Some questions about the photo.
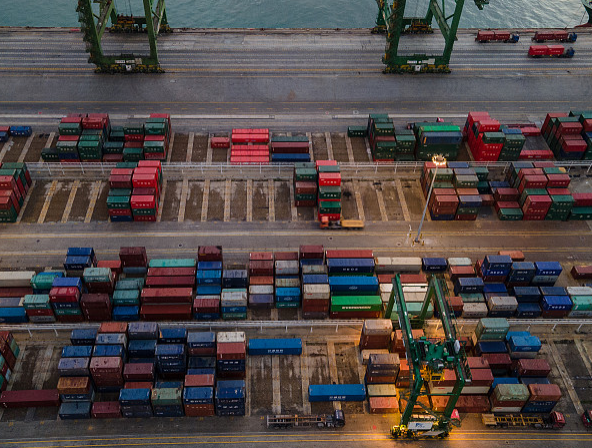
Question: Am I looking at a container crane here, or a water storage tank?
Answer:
container crane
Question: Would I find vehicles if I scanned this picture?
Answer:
Yes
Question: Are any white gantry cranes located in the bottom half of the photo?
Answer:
No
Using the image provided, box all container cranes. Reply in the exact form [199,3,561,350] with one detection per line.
[69,0,173,71]
[369,0,487,72]
[369,273,471,435]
